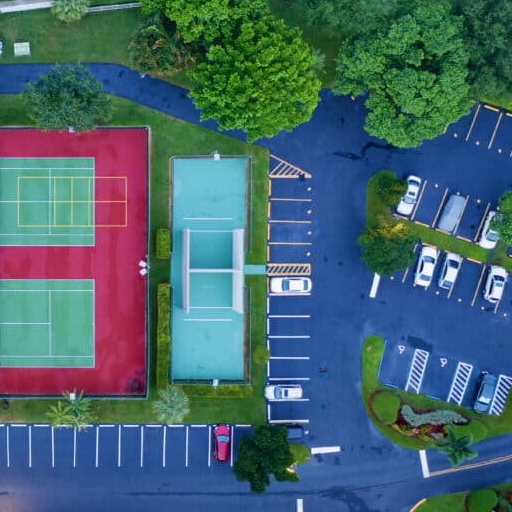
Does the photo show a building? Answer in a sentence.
No, I find no building anywhere in the image.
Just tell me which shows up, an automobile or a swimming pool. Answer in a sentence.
I can see an automobile in this picture.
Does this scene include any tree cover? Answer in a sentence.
Yes, some tree cover is visible.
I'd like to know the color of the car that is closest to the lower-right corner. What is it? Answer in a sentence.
From above, the car that is closest to the lower-right corner appears blue.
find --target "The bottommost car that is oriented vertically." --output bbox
[213,424,231,462]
